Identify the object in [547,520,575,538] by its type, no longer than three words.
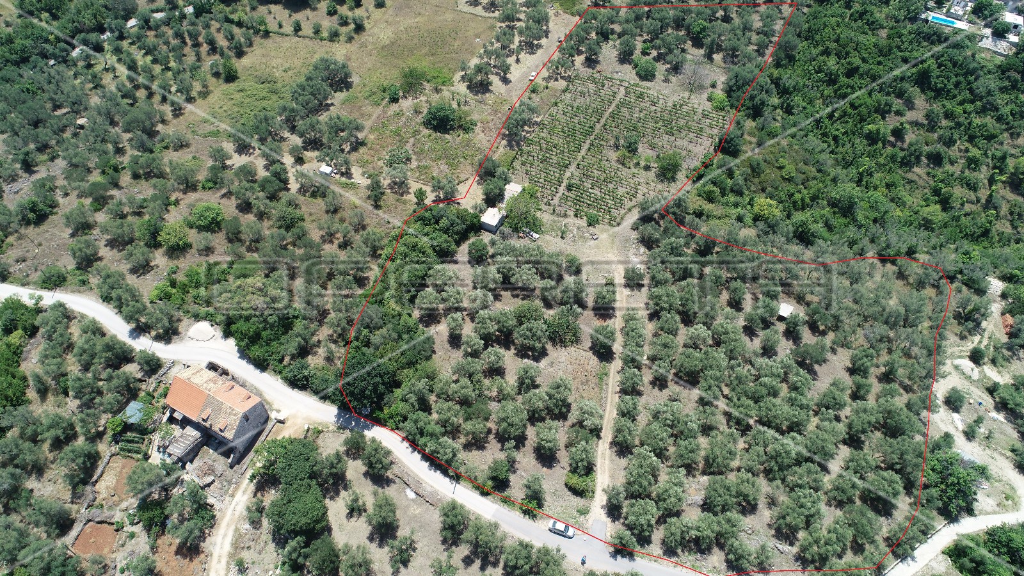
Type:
car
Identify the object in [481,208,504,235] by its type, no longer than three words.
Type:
shed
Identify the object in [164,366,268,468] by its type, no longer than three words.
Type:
house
